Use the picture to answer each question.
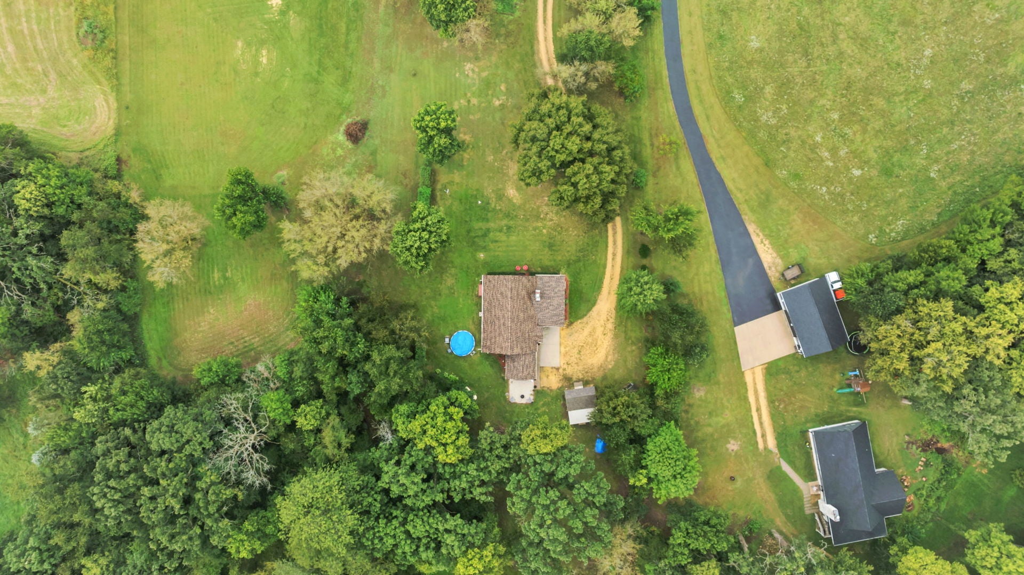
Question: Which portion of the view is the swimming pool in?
center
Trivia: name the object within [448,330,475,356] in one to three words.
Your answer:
swimming pool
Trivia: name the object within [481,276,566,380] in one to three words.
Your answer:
house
